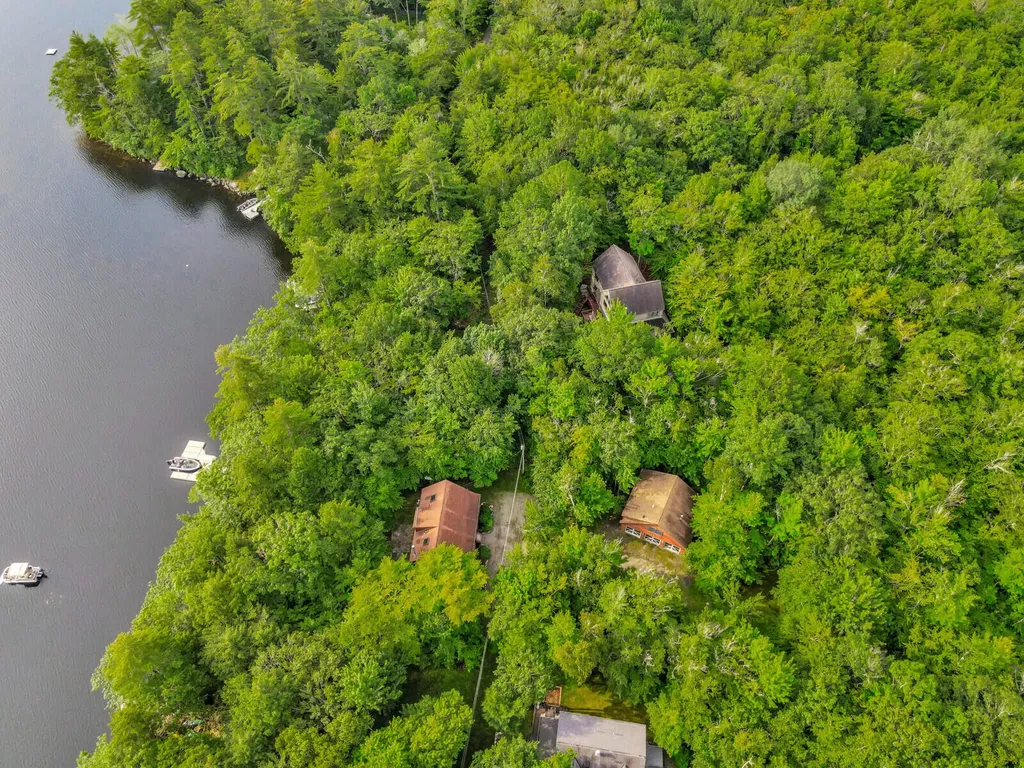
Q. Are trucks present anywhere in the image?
No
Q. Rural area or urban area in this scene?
rural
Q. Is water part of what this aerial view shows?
Yes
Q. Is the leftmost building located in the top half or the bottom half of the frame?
bottom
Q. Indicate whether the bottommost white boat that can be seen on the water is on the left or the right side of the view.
left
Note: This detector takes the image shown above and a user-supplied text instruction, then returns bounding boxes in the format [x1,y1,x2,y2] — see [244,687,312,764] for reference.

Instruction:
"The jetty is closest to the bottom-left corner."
[168,438,226,485]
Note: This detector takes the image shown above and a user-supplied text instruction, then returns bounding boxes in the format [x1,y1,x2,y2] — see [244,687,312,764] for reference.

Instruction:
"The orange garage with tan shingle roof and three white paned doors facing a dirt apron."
[620,470,697,549]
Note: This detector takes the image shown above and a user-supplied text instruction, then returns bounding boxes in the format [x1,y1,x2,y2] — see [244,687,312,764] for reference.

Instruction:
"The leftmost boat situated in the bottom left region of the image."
[2,563,45,584]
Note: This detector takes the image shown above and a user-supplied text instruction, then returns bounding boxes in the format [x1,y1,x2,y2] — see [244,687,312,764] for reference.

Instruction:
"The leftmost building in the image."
[407,482,482,562]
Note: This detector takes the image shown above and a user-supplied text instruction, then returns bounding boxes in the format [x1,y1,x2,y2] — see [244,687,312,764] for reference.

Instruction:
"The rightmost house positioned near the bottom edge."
[528,680,663,768]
